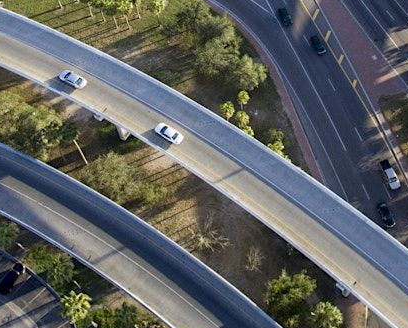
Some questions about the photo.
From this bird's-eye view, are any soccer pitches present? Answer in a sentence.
No, I can see no soccer pitch in this picture.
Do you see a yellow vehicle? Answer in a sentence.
No, the picture doesn't show any yellow vehicle.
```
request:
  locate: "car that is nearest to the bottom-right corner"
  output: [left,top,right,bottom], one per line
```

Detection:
[377,200,397,230]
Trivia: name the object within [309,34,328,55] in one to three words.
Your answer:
car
